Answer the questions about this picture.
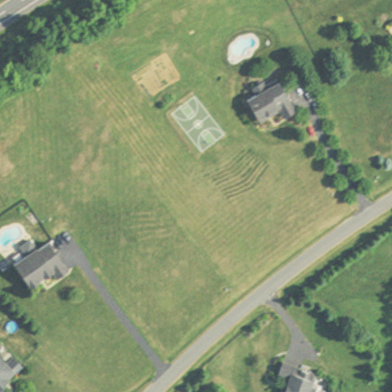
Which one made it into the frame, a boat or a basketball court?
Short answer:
basketball court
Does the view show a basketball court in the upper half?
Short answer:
Yes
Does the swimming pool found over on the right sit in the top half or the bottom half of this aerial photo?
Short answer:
top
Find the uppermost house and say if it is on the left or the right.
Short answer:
right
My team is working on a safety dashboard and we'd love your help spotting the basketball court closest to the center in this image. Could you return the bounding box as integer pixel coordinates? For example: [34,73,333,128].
[171,96,225,153]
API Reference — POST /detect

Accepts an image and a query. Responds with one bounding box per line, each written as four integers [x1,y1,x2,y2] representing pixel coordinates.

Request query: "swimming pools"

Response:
[0,224,32,258]
[228,34,260,64]
[6,322,18,333]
